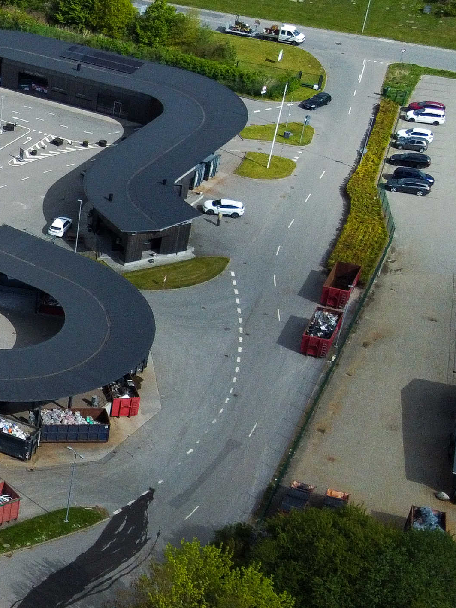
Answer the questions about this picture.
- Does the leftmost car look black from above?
No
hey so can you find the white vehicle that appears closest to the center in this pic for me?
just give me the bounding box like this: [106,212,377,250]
[205,199,242,219]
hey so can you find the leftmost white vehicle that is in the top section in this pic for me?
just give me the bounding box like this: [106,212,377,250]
[48,216,70,237]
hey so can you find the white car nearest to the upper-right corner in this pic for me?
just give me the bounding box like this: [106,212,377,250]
[407,109,442,125]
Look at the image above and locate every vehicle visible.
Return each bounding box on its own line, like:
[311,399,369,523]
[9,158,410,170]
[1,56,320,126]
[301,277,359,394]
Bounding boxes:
[407,109,442,125]
[388,179,427,196]
[396,170,435,186]
[48,216,70,237]
[393,154,430,171]
[398,128,433,145]
[205,199,242,219]
[261,26,302,45]
[304,92,332,110]
[411,99,444,112]
[398,137,426,153]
